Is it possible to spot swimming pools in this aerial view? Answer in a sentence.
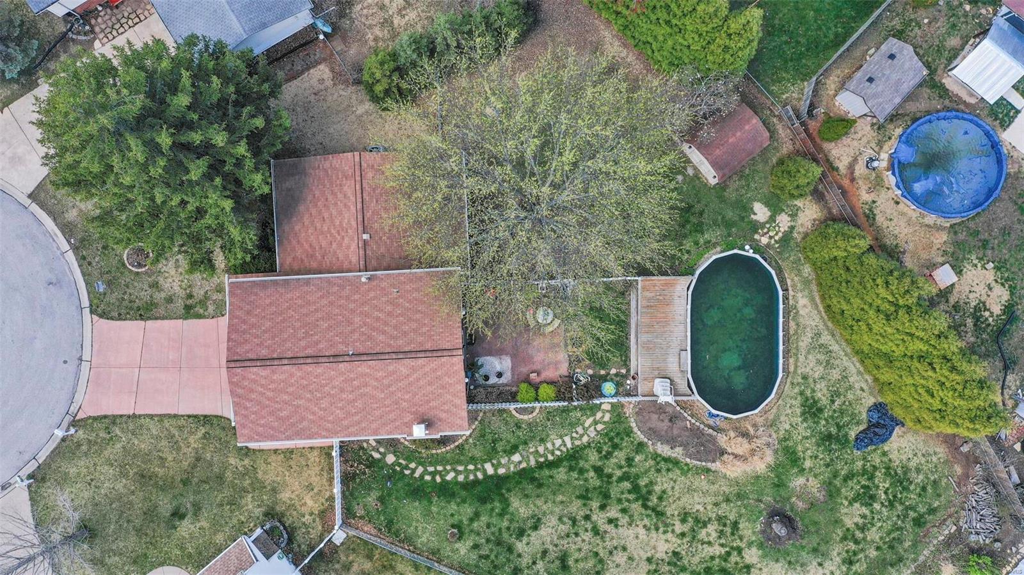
Yes, the frame does contain a swimming pool.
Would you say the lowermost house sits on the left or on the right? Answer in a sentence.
It is on the left.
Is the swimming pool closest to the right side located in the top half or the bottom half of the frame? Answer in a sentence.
You can find the swimming pool closest to the right side in the top half.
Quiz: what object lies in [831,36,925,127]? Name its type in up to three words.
shed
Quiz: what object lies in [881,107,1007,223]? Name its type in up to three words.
swimming pool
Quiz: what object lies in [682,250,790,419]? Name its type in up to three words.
swimming pool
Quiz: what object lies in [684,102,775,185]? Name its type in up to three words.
shed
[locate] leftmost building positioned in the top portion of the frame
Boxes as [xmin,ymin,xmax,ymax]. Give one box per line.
[151,0,316,73]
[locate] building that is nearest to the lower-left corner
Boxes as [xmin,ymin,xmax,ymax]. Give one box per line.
[194,527,303,575]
